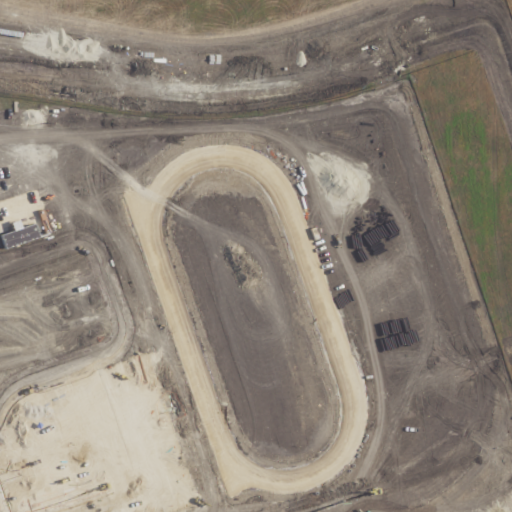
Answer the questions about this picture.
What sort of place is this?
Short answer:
sports ground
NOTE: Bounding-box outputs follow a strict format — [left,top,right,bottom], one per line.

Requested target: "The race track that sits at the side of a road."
[124,144,368,496]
